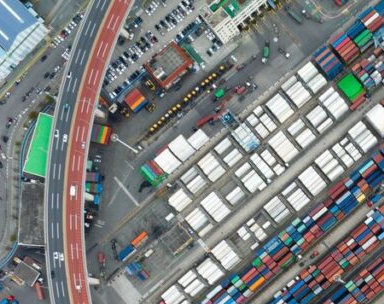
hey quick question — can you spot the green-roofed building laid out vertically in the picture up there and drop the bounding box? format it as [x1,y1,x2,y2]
[23,113,57,178]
